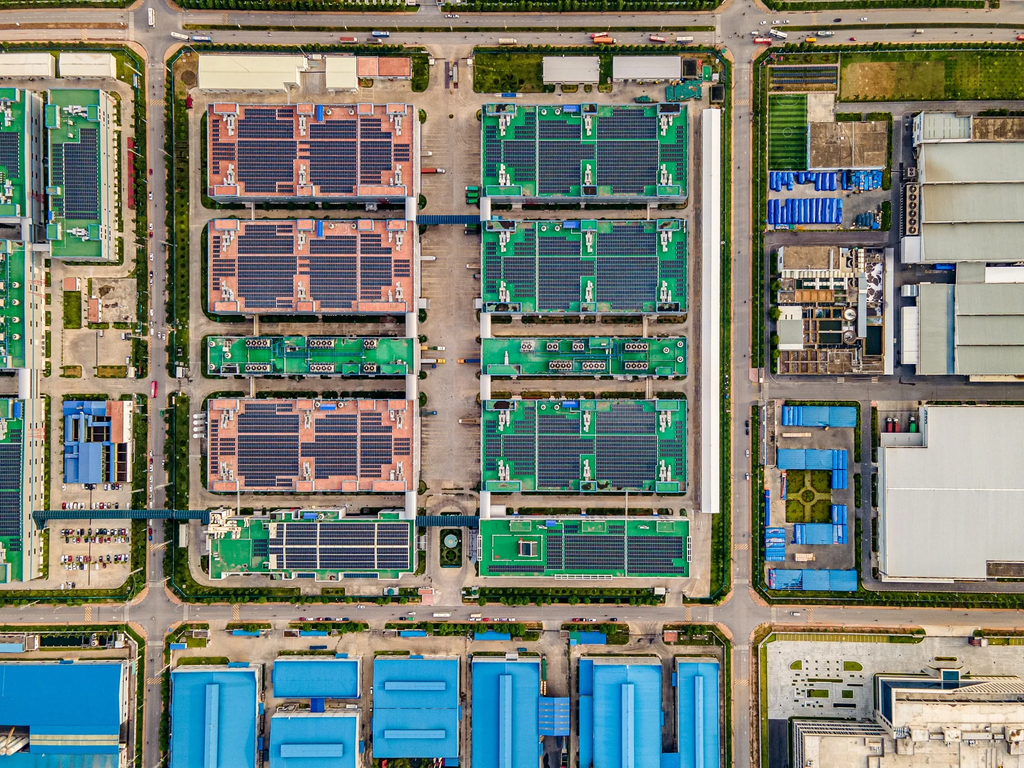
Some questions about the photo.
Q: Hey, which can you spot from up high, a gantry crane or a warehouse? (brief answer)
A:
warehouse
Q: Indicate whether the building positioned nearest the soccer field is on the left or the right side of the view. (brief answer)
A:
right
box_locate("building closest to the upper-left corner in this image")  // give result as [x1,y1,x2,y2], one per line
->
[0,54,58,82]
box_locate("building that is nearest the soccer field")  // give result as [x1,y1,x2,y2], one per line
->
[806,121,889,170]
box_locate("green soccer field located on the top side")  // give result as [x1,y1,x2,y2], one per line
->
[767,94,808,170]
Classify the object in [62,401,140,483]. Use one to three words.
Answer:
house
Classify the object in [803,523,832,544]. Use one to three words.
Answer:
tent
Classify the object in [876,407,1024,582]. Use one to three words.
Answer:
warehouse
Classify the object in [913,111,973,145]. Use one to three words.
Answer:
building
